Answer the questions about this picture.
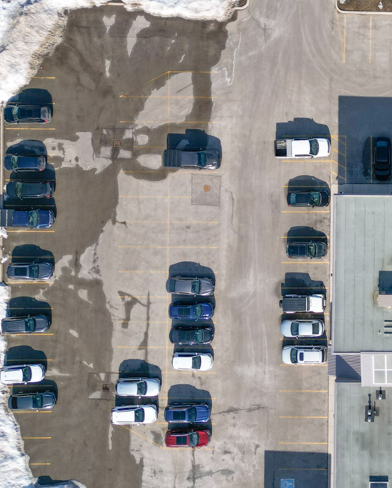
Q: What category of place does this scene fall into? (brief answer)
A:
parking lot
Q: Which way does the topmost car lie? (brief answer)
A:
horizontally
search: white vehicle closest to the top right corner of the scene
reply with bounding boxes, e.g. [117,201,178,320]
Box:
[273,136,331,160]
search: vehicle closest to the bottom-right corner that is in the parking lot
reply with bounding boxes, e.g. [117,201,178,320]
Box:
[282,344,326,367]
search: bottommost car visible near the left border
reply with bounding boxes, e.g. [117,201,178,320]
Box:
[6,390,58,413]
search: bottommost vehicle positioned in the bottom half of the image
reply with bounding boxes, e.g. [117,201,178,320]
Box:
[164,427,211,451]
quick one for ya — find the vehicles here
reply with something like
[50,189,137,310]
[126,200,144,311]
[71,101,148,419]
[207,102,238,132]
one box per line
[273,136,331,160]
[5,260,55,282]
[286,239,328,261]
[167,300,214,322]
[0,313,53,336]
[371,137,392,179]
[114,377,161,400]
[282,344,326,367]
[164,427,211,451]
[162,148,222,171]
[287,188,330,210]
[3,103,51,125]
[165,276,214,298]
[0,207,56,230]
[281,318,325,340]
[163,402,211,426]
[6,390,58,413]
[0,362,46,385]
[168,325,214,347]
[171,352,213,373]
[280,295,325,314]
[110,403,159,426]
[3,151,46,173]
